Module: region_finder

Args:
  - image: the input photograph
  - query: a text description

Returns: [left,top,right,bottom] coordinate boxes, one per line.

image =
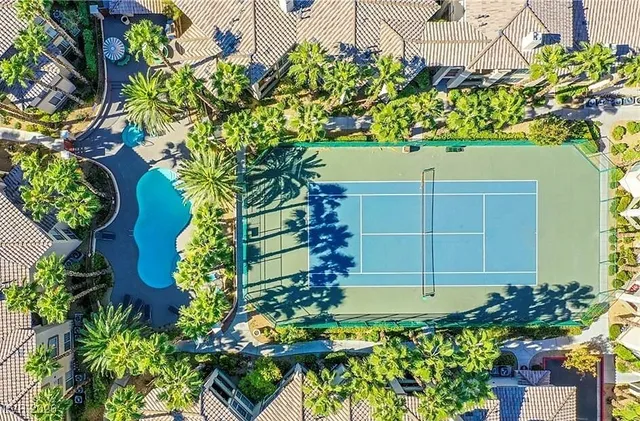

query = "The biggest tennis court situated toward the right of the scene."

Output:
[247,147,600,322]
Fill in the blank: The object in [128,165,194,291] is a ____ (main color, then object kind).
blue swimming pool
